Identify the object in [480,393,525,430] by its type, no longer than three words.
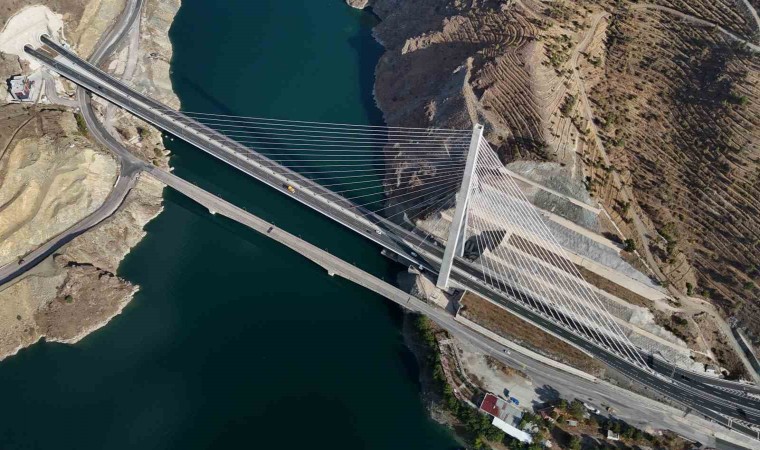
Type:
building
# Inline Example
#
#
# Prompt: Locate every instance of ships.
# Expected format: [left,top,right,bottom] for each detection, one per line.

[379,247,401,264]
